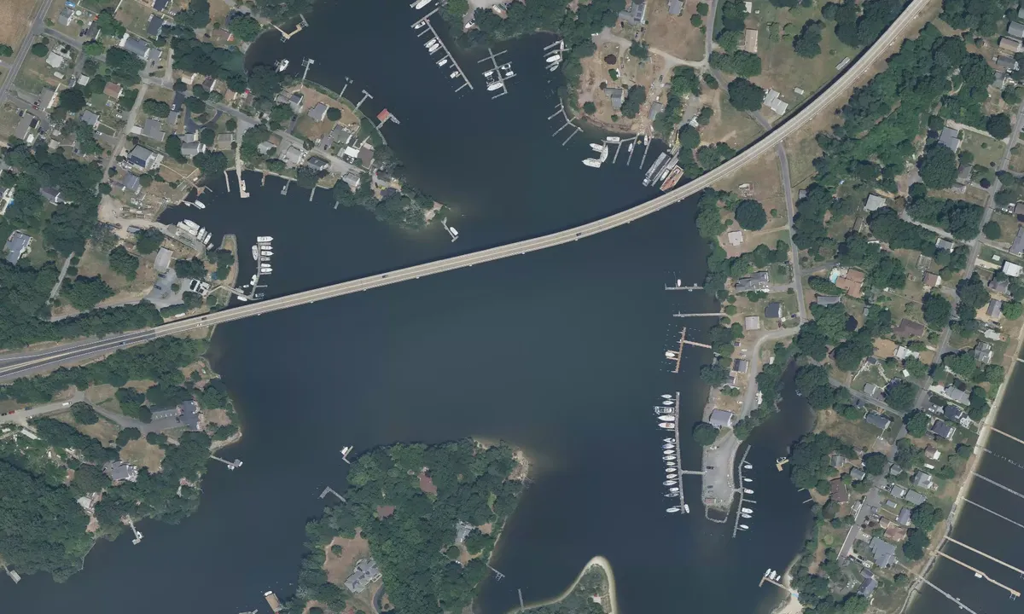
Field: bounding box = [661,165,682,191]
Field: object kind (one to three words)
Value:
ship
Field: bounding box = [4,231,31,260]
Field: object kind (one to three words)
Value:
house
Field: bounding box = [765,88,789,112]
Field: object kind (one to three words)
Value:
house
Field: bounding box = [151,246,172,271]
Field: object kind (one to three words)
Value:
shed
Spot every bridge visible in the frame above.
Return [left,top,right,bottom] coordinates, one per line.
[158,0,929,338]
